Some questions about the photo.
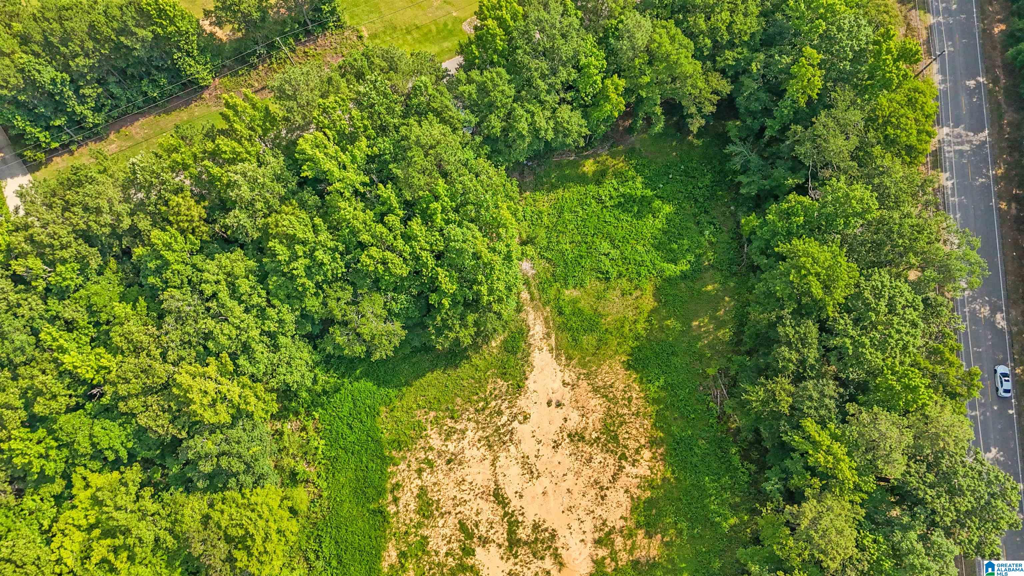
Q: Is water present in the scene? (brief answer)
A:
No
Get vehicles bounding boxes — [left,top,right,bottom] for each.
[992,365,1010,398]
